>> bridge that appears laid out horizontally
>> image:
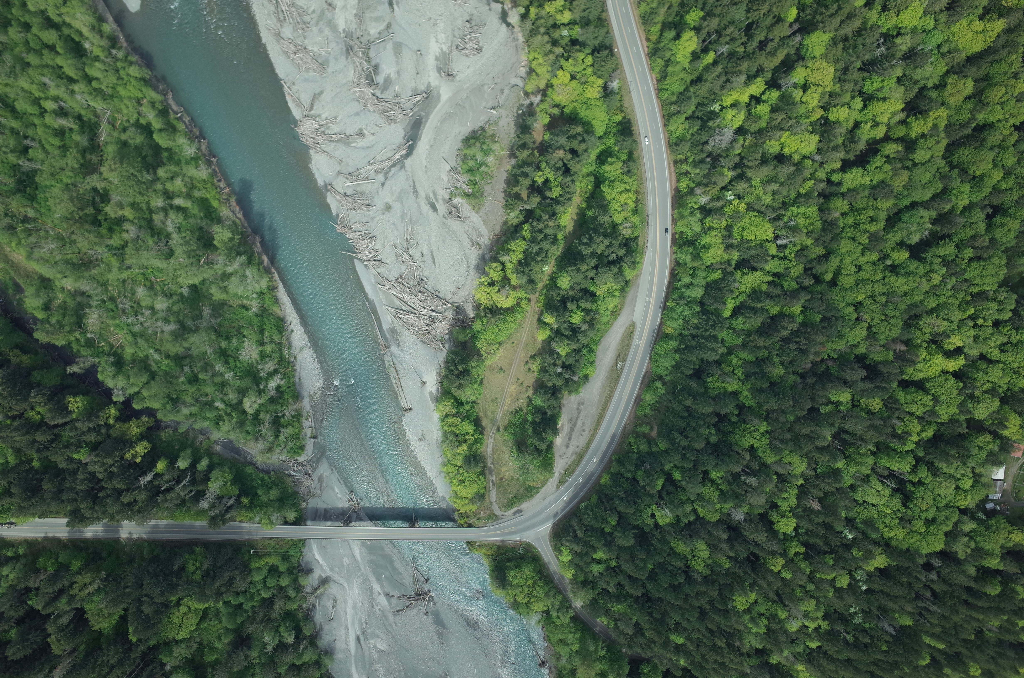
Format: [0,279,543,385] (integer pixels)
[302,520,473,541]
